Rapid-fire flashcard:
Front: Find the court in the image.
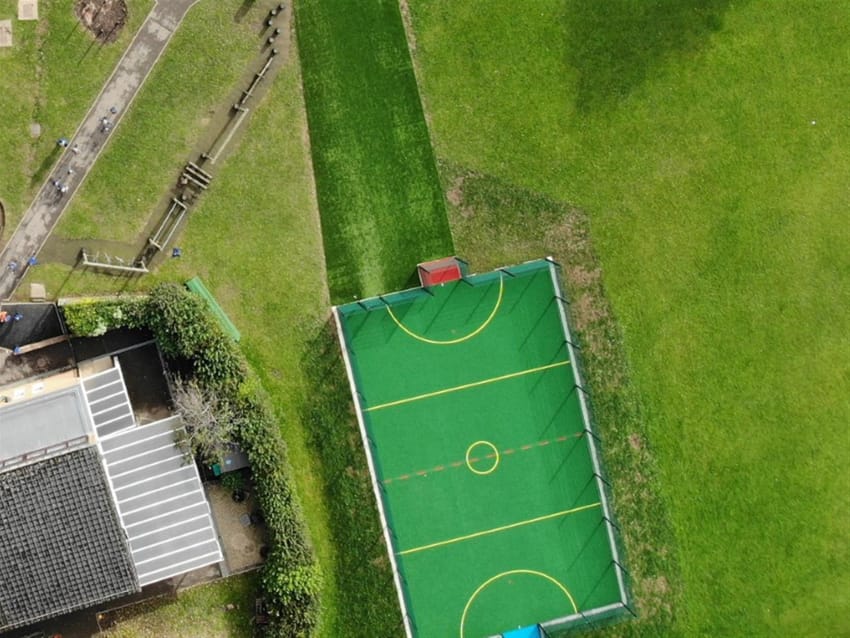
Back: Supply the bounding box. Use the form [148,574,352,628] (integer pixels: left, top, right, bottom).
[334,257,628,638]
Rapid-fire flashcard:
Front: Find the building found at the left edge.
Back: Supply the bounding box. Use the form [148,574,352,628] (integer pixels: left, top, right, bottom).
[0,371,142,632]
